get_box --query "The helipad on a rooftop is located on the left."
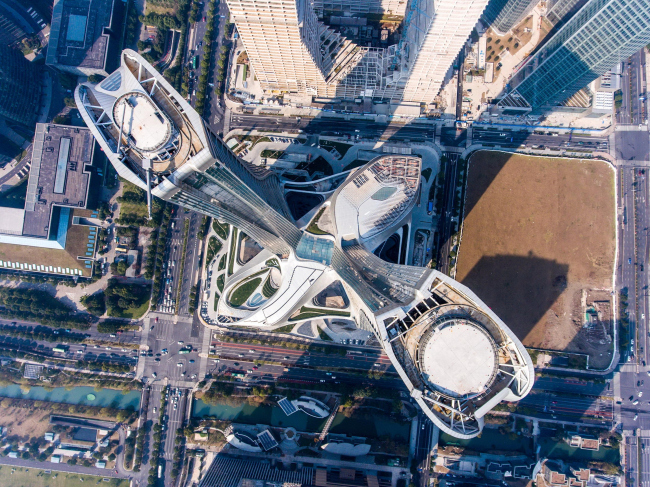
[109,88,182,157]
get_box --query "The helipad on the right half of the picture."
[415,317,498,399]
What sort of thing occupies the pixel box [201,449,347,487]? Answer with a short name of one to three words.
building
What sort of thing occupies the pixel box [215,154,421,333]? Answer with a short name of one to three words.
building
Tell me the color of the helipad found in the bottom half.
white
